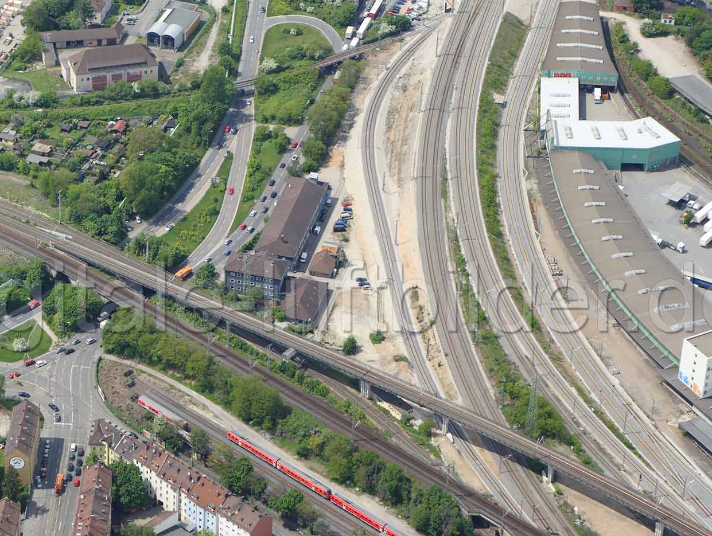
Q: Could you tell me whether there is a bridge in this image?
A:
Yes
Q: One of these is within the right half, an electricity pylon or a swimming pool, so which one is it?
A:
electricity pylon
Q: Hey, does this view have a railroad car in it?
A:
Yes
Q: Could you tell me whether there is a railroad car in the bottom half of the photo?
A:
Yes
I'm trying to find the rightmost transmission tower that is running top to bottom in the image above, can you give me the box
[521,361,555,434]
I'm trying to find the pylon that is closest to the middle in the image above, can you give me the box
[374,279,390,336]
